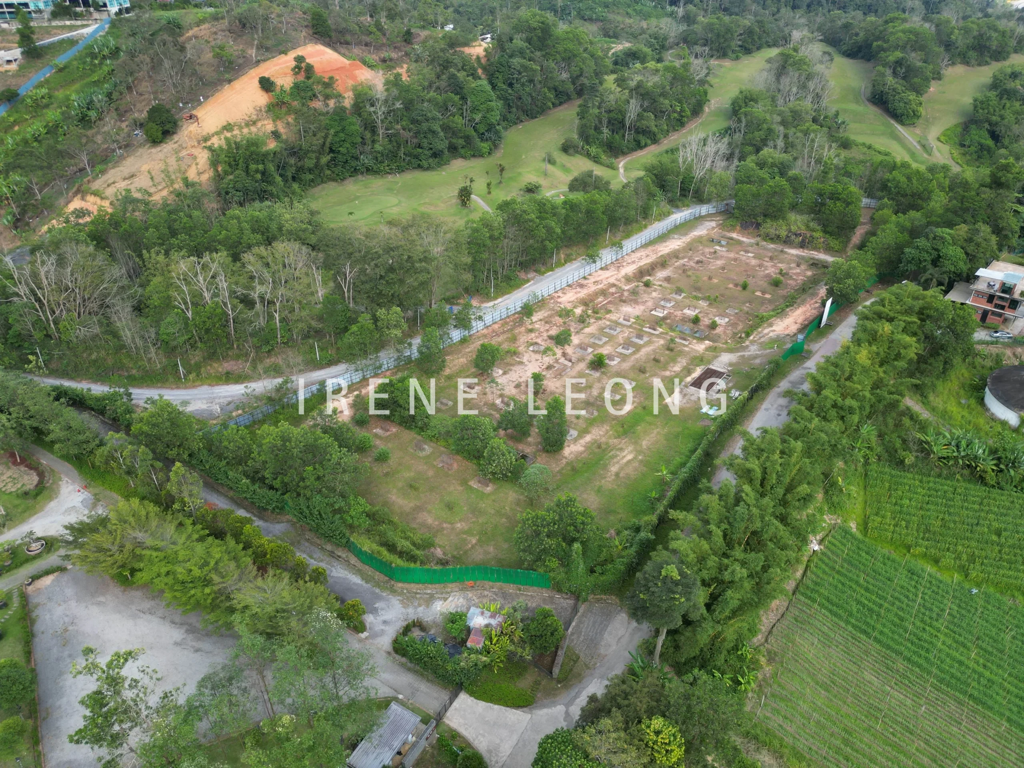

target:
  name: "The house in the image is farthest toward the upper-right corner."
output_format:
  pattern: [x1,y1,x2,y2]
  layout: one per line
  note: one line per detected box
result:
[922,258,1024,330]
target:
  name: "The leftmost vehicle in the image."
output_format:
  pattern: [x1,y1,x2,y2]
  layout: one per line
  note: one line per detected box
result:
[181,108,204,122]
